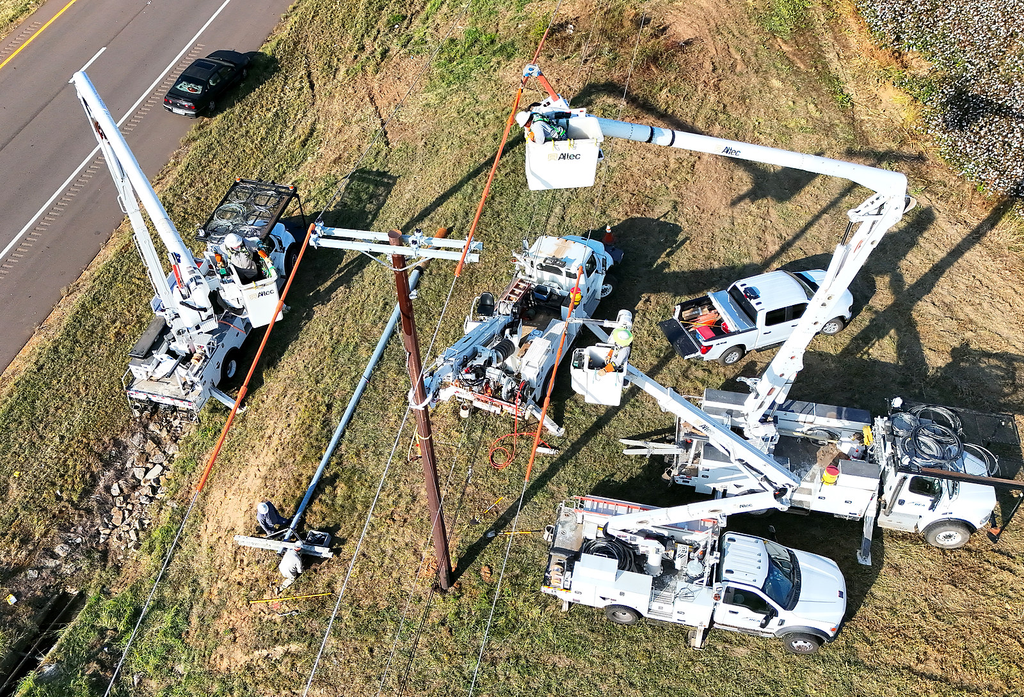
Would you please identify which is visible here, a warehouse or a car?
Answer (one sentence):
It is a car that can be seen here.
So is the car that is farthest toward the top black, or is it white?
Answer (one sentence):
The color of the car that is farthest toward the top is black.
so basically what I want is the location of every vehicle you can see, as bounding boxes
[69,65,309,435]
[653,263,864,367]
[165,46,256,117]
[537,304,853,653]
[523,64,1024,568]
[404,235,613,441]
